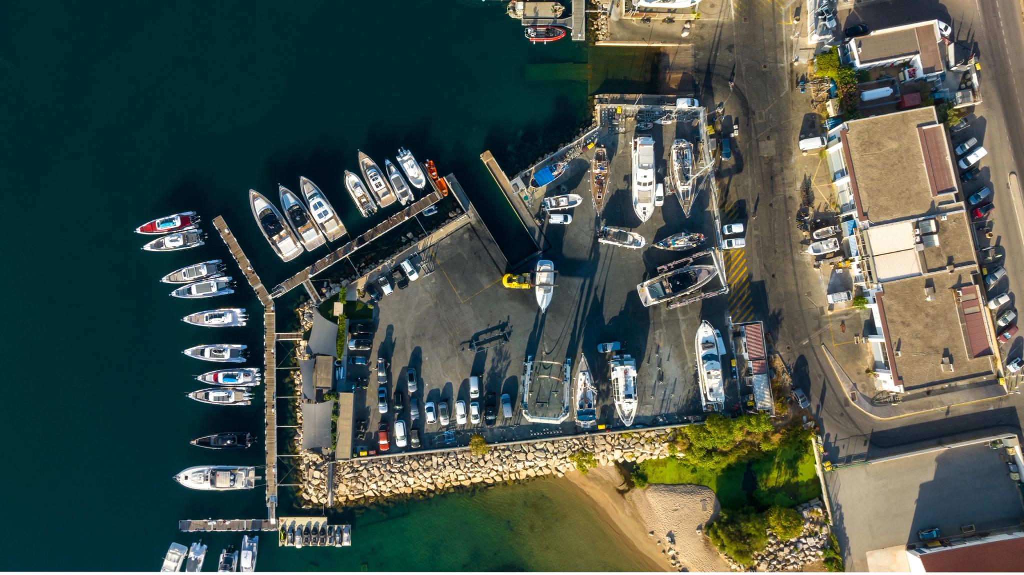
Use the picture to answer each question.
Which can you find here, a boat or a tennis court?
boat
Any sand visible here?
Yes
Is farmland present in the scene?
No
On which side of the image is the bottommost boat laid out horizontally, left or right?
left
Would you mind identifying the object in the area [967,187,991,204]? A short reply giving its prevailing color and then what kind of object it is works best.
blue car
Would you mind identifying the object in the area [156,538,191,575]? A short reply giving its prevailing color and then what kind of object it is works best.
white boat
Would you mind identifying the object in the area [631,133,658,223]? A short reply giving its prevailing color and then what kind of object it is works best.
white boat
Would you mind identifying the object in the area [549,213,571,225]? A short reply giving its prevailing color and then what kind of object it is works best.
white vehicle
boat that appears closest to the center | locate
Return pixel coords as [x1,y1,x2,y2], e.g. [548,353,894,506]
[535,260,554,315]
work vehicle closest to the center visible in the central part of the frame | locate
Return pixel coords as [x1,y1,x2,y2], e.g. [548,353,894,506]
[503,272,558,289]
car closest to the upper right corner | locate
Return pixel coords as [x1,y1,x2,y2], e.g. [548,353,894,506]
[936,20,953,39]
